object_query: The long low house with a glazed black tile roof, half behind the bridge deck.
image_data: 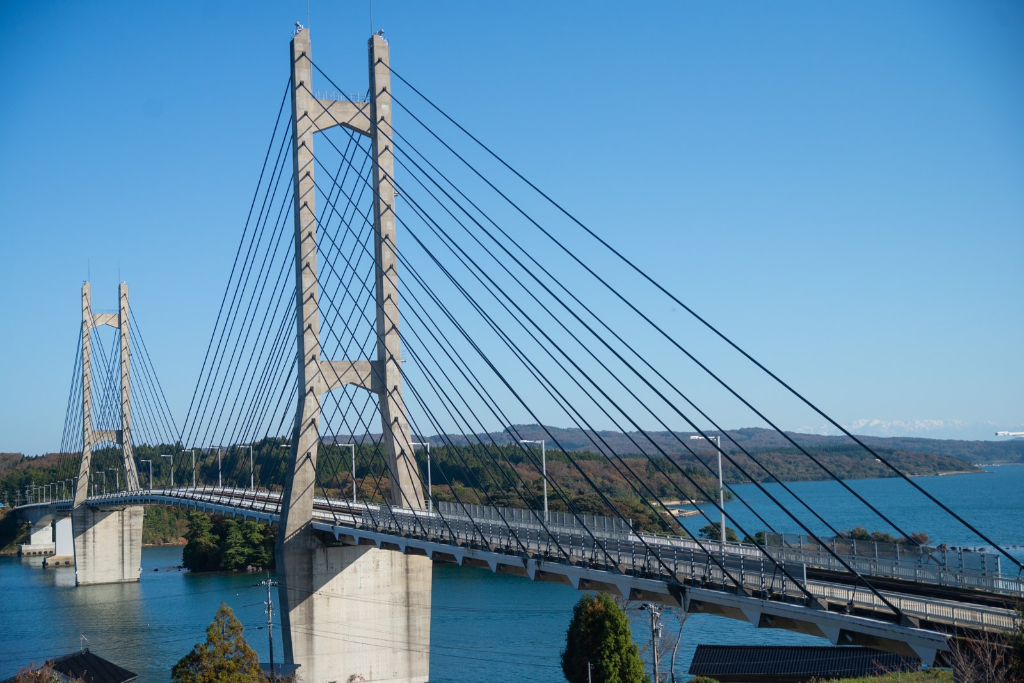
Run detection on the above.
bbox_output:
[681,641,929,683]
